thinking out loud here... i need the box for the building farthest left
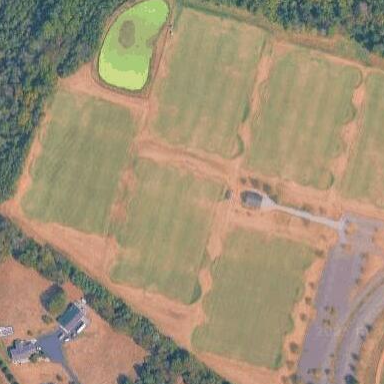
[7,337,36,365]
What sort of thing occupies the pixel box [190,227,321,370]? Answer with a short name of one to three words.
soccer field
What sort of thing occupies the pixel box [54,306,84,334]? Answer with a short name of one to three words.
barn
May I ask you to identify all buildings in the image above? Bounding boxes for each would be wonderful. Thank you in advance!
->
[242,192,264,208]
[7,337,36,365]
[54,306,84,334]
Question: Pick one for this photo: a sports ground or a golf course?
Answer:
sports ground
